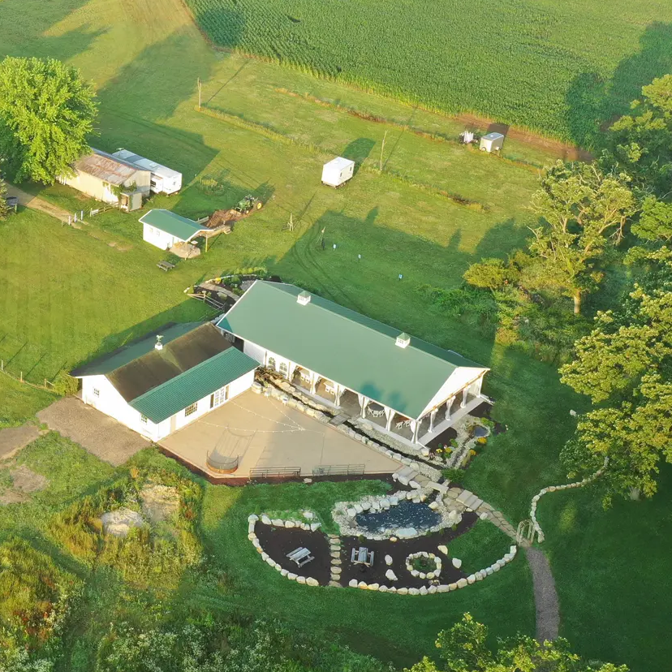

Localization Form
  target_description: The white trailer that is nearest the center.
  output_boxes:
[321,156,353,186]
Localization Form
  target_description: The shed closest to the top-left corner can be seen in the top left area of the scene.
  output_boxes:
[61,147,147,209]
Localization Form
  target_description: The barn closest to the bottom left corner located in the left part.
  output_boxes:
[71,320,259,442]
